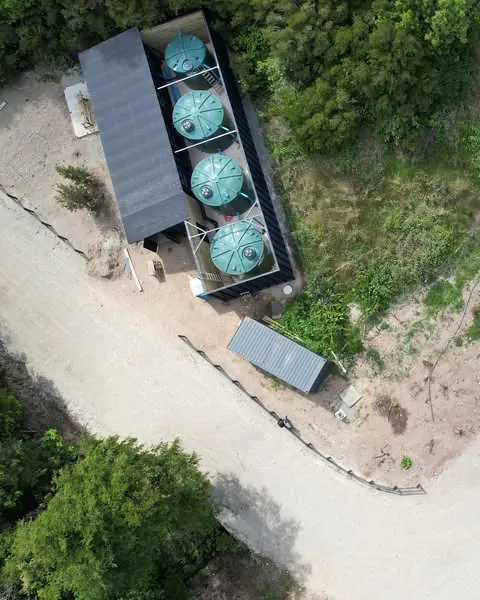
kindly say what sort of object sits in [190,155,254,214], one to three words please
water tank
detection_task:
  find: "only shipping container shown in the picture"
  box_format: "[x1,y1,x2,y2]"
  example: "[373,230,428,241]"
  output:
[228,316,335,394]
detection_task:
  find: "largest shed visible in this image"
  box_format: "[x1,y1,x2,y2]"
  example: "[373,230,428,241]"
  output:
[77,26,202,244]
